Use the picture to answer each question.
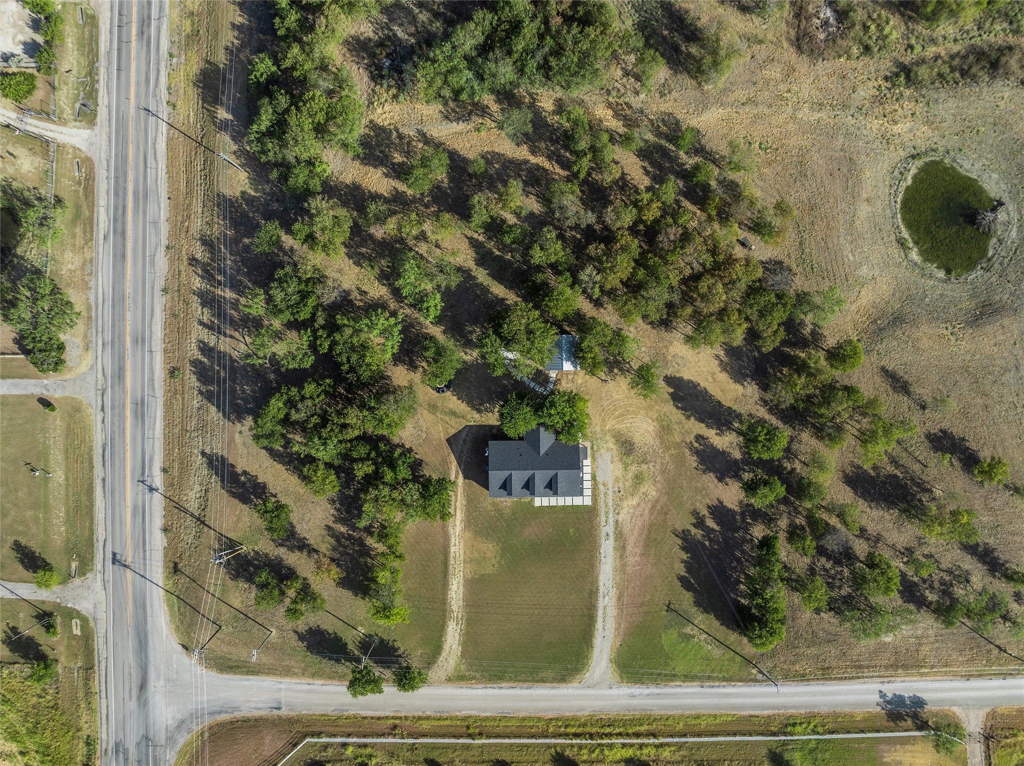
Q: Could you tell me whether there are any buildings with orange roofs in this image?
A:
No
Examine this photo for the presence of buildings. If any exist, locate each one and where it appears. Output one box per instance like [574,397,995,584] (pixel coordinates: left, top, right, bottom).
[489,422,587,498]
[545,335,581,370]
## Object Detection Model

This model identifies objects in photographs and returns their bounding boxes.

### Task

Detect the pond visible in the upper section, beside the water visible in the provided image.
[897,158,997,277]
